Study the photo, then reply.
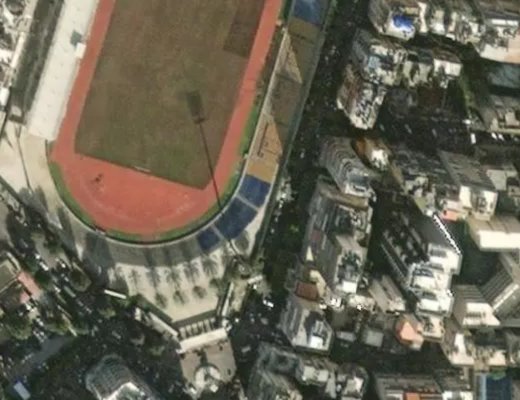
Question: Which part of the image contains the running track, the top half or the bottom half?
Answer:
top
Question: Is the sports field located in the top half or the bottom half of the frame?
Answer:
top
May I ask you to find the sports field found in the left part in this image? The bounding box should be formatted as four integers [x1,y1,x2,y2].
[75,0,261,189]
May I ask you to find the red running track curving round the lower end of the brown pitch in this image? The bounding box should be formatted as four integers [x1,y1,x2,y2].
[49,0,282,235]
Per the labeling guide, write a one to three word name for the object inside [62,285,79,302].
vehicle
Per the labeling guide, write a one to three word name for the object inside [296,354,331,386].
building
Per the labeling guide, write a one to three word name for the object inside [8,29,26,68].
shed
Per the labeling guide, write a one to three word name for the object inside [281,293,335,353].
building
